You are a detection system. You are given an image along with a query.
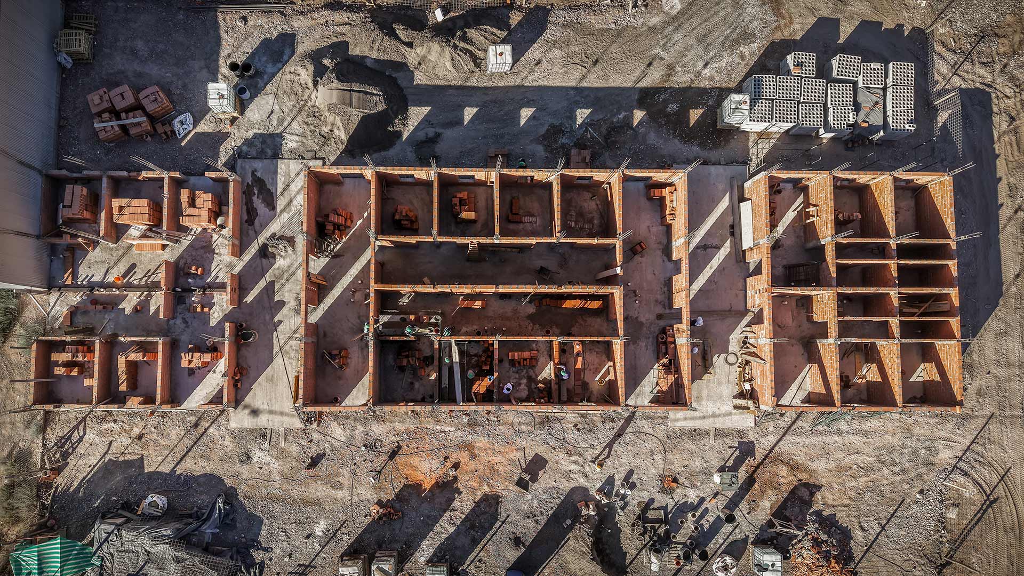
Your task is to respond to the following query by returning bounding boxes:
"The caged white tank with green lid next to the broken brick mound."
[750,542,781,574]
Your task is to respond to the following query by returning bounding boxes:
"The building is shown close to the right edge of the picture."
[746,161,979,413]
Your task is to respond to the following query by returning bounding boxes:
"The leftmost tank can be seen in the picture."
[207,79,238,111]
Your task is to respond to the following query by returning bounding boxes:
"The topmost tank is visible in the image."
[488,44,513,74]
